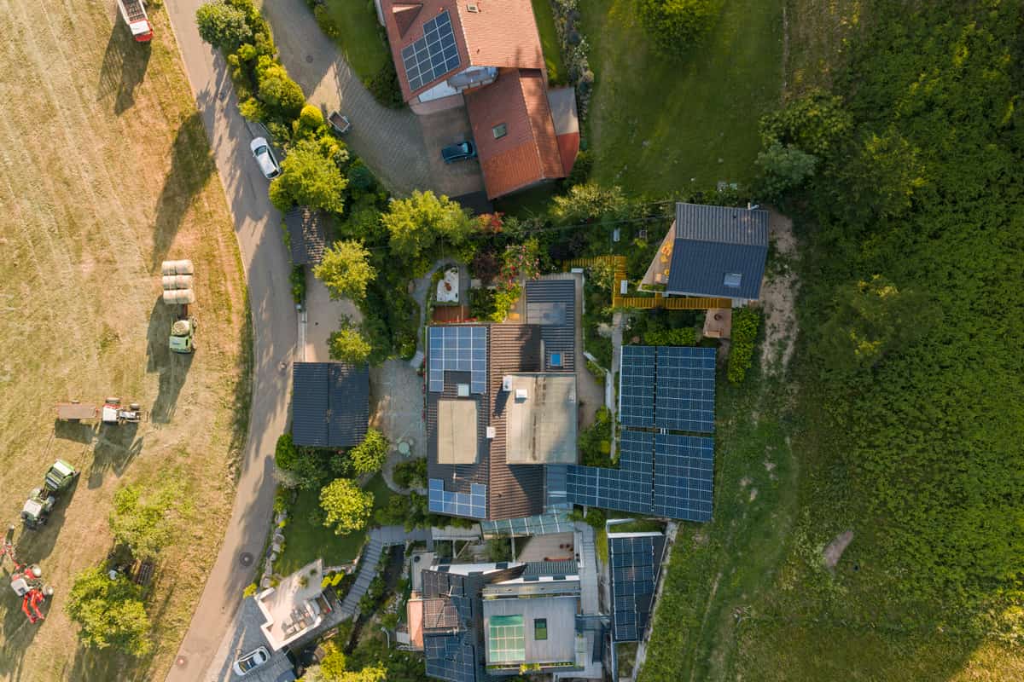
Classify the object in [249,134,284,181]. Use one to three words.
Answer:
car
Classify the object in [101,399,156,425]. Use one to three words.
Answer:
work vehicle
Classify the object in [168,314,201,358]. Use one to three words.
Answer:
work vehicle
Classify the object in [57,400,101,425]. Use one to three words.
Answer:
trailer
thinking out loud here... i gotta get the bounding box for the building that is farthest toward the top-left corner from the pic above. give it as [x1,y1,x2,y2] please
[285,207,328,266]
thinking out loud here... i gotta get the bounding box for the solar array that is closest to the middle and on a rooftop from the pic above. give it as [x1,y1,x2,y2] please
[428,328,485,393]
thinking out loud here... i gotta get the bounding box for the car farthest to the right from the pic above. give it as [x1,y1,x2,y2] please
[441,138,479,162]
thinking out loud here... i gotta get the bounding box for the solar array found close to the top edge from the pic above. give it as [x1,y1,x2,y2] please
[402,10,459,91]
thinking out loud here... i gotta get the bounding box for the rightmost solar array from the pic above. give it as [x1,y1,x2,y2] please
[612,538,655,639]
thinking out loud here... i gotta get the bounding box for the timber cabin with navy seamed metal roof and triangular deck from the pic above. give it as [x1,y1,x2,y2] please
[638,198,769,308]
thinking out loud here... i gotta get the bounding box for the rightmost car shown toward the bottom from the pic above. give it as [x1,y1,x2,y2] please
[232,646,272,677]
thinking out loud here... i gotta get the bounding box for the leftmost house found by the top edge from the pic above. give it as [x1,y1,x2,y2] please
[376,0,579,201]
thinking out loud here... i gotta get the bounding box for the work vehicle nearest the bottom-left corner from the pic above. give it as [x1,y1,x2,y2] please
[10,564,57,616]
